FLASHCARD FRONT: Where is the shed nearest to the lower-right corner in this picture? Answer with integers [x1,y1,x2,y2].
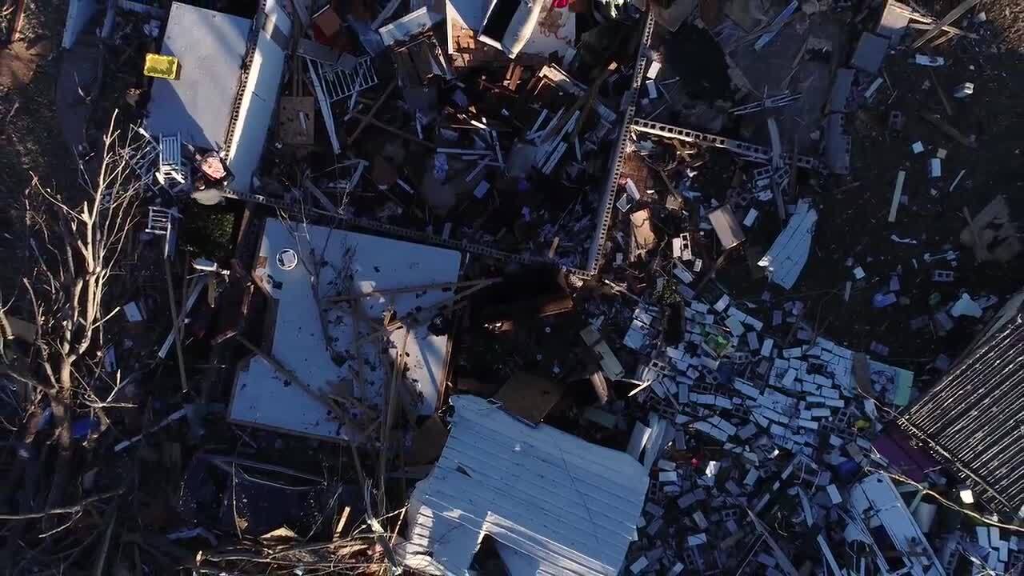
[894,321,1024,523]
